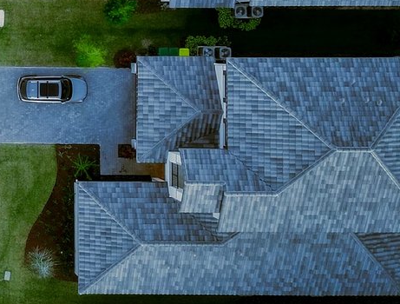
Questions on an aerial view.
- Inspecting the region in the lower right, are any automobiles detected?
No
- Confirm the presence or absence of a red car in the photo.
No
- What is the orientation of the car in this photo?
from left to right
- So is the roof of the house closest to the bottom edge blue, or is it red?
blue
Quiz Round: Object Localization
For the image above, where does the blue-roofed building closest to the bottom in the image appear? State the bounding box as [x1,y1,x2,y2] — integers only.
[75,56,400,295]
